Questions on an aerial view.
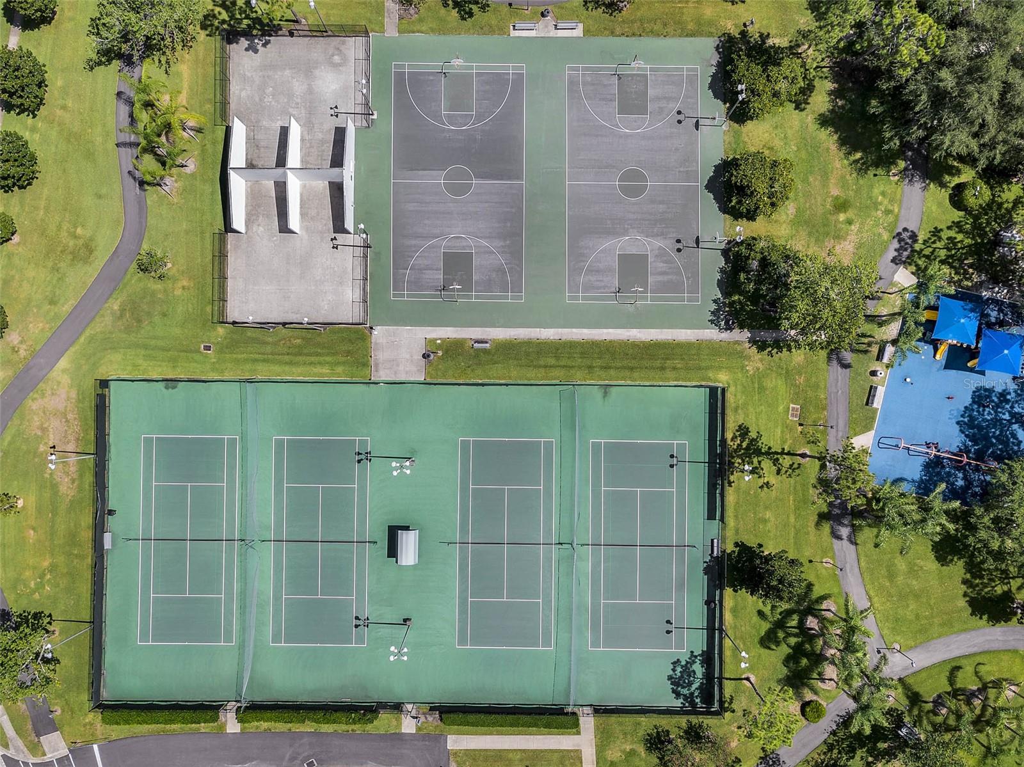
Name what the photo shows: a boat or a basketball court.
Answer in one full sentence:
I can see a basketball court in this picture.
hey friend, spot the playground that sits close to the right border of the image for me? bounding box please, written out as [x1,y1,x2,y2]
[862,286,1024,515]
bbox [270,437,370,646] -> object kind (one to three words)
tennis court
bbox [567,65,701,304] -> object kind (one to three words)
basketball court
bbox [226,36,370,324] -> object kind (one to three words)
sports court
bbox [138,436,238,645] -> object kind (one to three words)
tennis court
